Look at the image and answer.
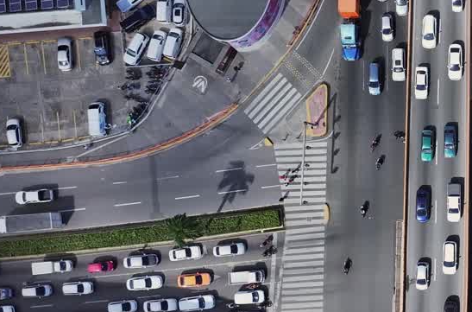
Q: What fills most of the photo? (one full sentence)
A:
The bulk of the photo consists of paved ground.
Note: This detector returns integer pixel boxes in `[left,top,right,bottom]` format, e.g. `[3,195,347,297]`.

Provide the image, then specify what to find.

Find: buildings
[0,0,121,42]
[189,0,288,53]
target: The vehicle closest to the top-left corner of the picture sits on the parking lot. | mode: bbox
[56,38,76,71]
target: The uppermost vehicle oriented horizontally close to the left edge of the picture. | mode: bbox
[16,188,56,205]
